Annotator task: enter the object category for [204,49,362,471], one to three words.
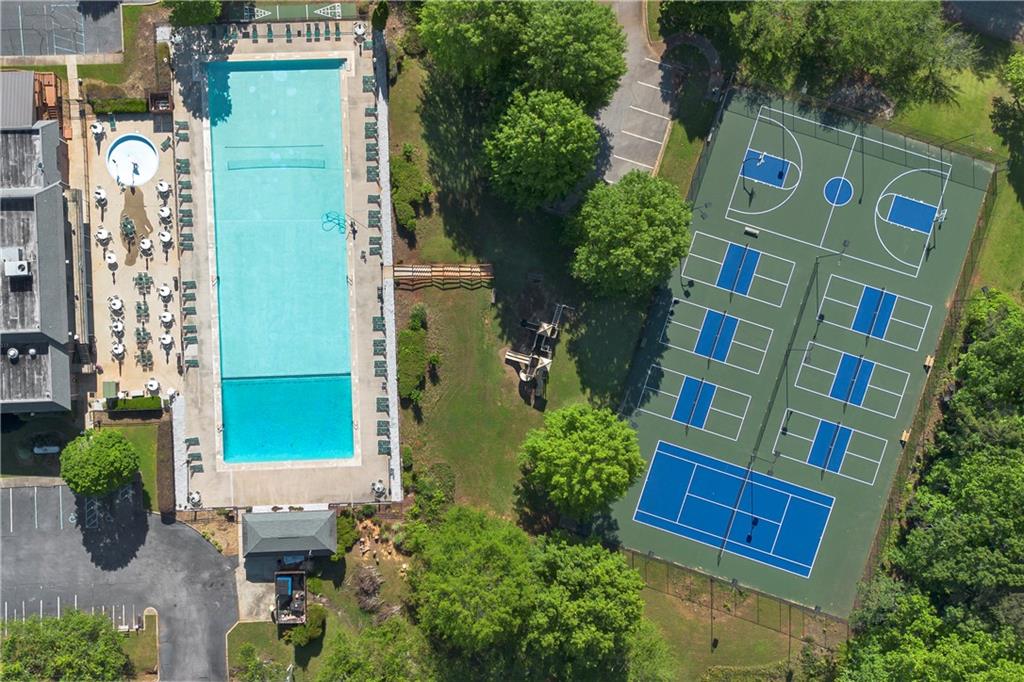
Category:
swimming pool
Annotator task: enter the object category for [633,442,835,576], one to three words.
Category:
tennis court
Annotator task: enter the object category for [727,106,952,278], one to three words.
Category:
basketball court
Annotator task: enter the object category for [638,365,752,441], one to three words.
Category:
sports court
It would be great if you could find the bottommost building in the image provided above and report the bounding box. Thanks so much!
[243,509,338,557]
